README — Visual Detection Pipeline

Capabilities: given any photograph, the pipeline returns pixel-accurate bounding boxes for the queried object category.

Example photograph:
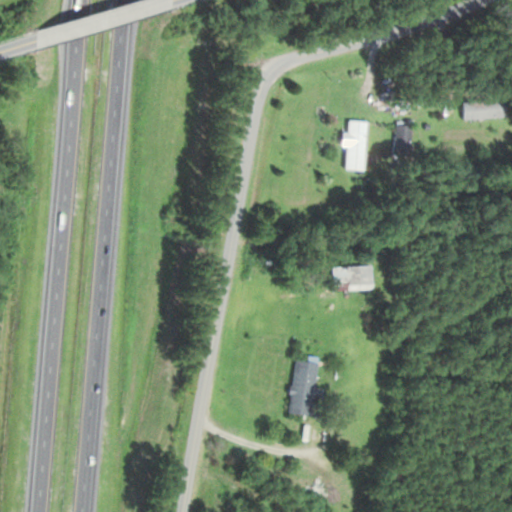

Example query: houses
[395,120,414,156]
[332,265,376,297]
[288,354,323,420]
[342,120,369,172]
[464,101,504,124]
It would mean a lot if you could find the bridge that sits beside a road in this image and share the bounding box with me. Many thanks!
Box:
[34,0,176,51]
